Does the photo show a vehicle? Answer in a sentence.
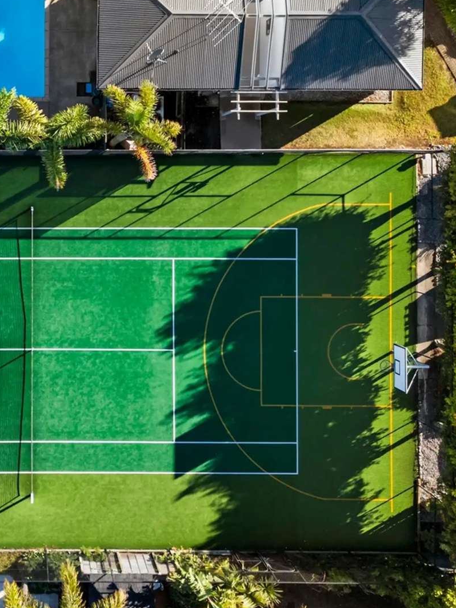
No, there is no vehicle in the image.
